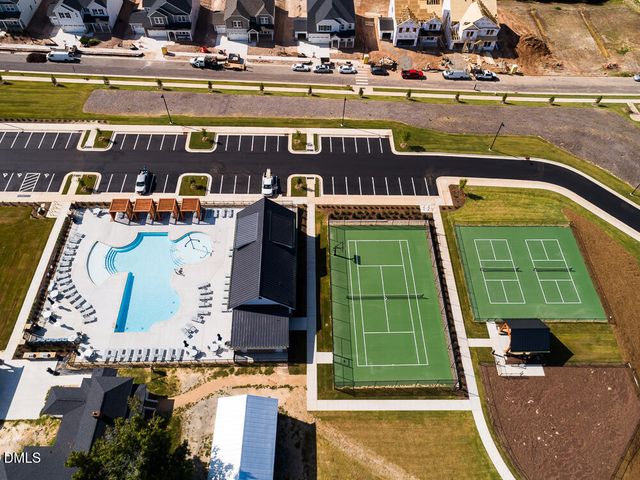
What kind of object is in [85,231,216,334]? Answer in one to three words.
swimming pool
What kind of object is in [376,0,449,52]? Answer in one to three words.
house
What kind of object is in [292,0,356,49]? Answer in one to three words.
house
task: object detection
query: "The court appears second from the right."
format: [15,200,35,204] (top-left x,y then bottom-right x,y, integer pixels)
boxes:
[454,226,541,319]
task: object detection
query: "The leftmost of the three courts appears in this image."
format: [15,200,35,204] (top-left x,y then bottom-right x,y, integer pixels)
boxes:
[328,224,458,388]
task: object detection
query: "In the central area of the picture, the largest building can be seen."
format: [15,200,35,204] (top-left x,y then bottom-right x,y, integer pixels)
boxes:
[228,196,296,361]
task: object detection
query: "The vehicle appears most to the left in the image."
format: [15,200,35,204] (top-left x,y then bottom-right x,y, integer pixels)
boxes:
[46,48,79,61]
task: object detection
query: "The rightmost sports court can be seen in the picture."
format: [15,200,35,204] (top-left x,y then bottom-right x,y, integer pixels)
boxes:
[511,226,608,319]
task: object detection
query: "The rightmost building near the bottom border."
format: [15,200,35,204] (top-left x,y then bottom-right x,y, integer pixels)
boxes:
[208,396,277,480]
